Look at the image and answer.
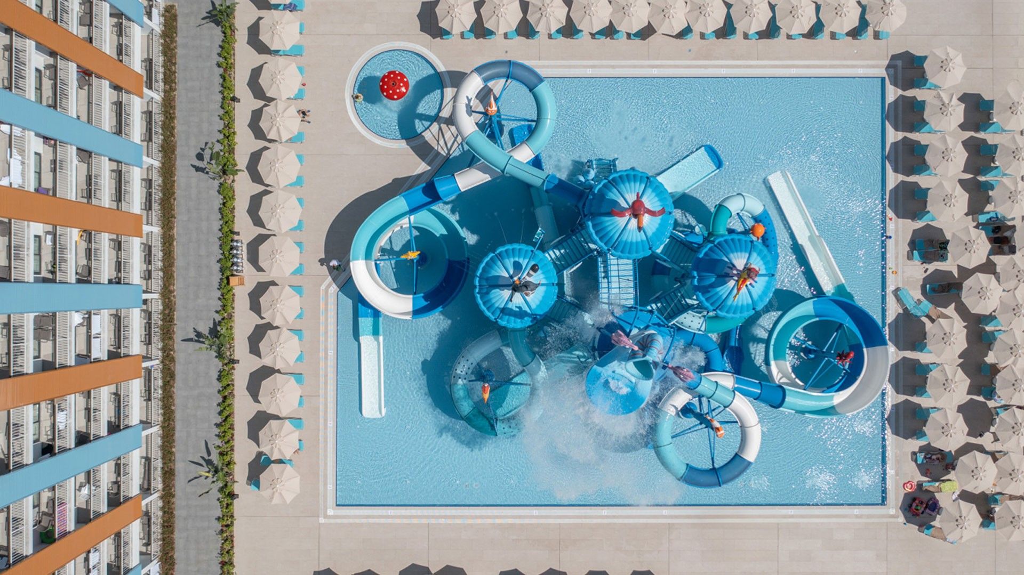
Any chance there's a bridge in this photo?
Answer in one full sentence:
Yes, the photo shows a bridge.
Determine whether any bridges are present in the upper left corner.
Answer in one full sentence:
No, no bridge can be made out in the upper left corner.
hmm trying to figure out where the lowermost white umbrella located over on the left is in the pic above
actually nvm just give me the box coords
[259,461,302,504]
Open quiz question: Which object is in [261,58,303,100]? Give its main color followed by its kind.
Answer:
white umbrella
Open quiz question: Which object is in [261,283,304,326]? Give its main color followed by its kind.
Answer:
white umbrella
